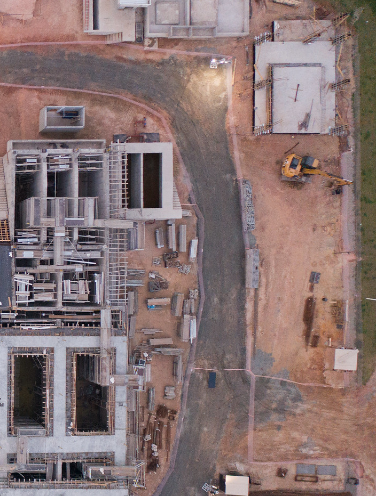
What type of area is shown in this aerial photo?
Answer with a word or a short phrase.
industrial area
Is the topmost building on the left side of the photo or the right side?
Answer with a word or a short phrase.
right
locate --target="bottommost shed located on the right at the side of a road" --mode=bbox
[215,471,249,496]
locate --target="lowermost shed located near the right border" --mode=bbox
[322,348,358,370]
